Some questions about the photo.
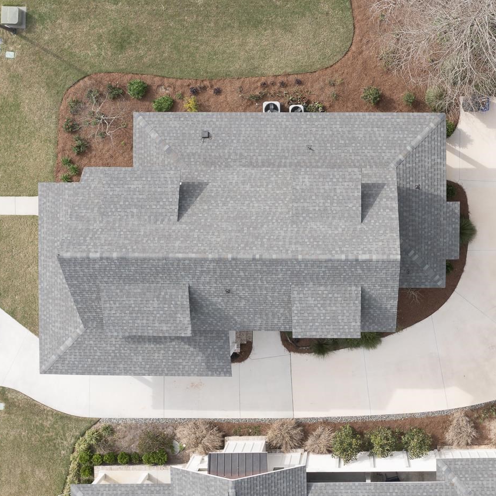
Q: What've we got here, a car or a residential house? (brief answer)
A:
residential house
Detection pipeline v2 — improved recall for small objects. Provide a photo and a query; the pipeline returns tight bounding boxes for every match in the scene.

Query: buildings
[38,111,460,378]
[69,436,496,496]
